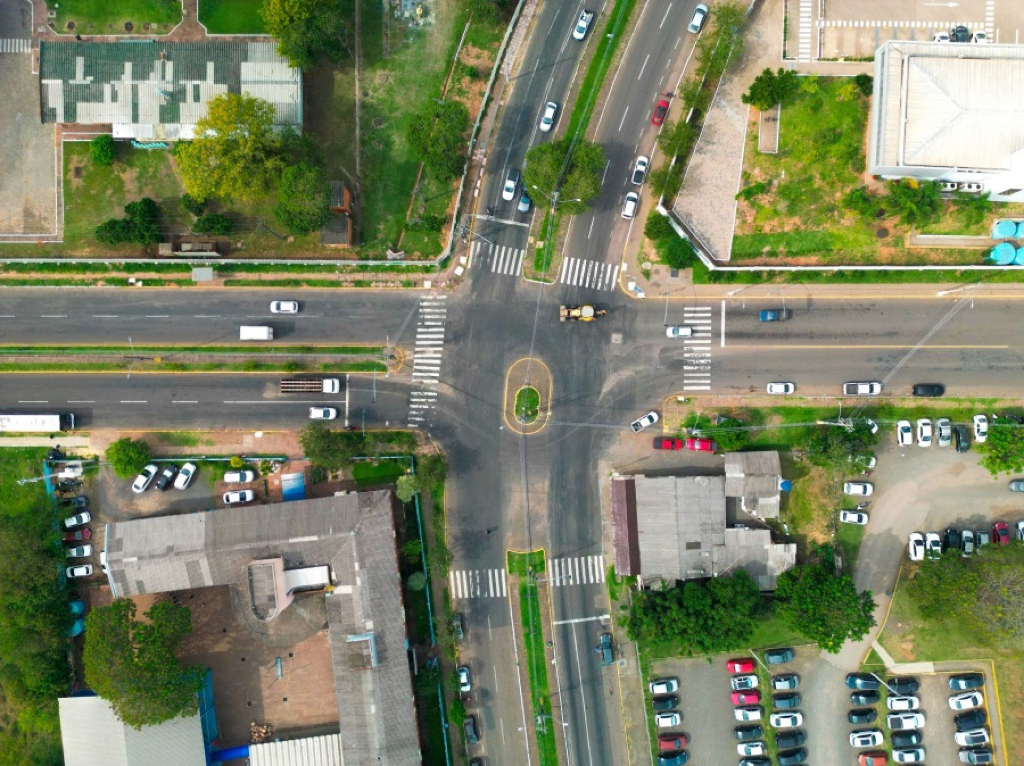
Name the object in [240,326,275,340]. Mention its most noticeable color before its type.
white vehicle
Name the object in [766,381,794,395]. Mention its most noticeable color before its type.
white car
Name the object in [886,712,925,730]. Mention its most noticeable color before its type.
white vehicle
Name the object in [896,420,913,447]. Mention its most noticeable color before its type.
white car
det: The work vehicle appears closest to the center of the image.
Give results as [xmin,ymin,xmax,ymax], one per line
[560,306,608,322]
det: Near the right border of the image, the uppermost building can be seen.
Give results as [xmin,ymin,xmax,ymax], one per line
[870,40,1024,174]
